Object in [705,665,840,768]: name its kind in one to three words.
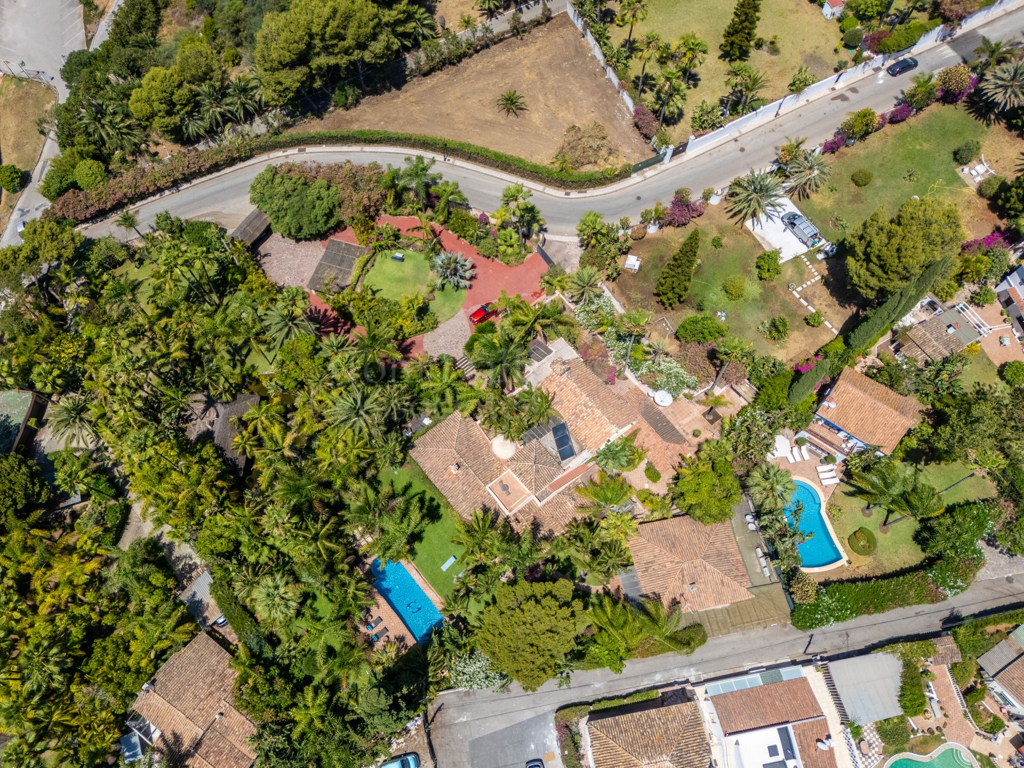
house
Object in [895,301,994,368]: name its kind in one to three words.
house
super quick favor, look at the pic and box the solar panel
[551,422,575,460]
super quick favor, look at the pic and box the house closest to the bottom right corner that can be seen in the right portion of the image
[979,624,1024,714]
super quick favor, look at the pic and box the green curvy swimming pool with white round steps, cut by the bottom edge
[891,748,974,768]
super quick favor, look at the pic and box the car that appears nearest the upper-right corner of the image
[886,58,917,78]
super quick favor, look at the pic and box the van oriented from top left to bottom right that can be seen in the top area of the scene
[784,215,825,251]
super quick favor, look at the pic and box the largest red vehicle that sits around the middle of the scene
[466,300,499,326]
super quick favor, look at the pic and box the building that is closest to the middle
[410,336,693,536]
